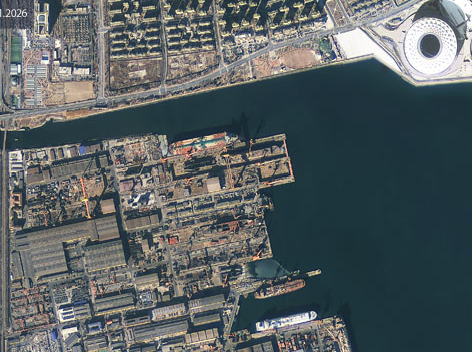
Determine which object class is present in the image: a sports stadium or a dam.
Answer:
sports stadium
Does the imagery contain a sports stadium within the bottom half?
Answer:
No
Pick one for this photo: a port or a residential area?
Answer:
port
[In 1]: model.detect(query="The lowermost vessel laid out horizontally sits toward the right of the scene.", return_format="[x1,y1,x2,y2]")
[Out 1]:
[255,310,318,331]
